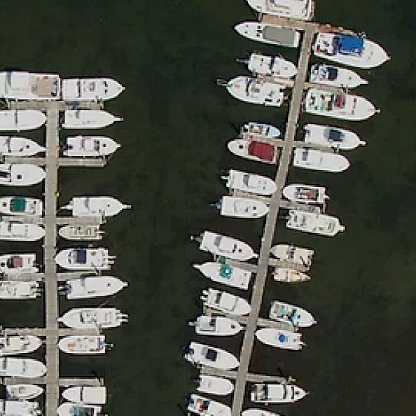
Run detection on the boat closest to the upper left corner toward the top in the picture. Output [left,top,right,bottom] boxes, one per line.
[0,70,60,100]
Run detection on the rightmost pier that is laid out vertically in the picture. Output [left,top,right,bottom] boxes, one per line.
[198,13,360,416]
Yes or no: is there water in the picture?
Yes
